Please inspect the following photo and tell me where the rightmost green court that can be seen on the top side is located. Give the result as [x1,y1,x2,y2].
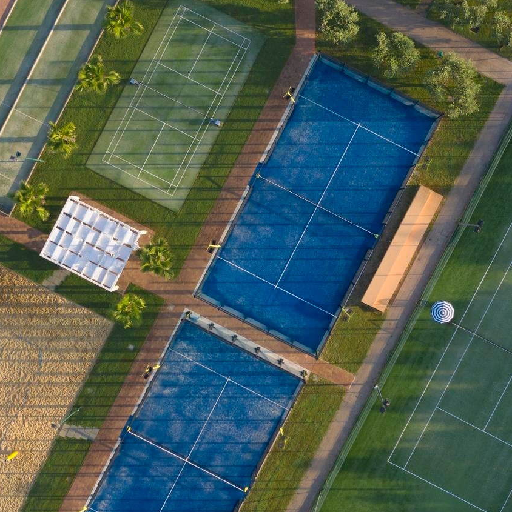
[85,0,265,213]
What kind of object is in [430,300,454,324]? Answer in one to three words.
umbrella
